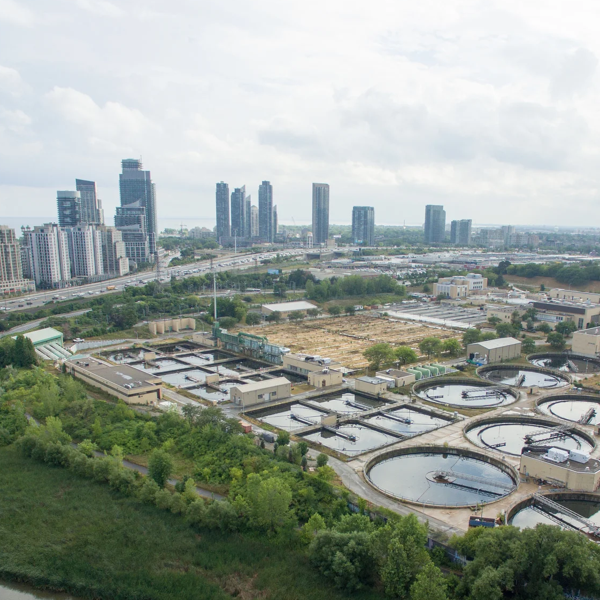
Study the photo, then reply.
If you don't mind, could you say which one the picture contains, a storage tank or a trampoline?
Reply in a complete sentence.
The image shows a storage tank.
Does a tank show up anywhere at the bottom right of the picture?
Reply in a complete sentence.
Yes, looking at the bottom right of the picture, one can make out a tank.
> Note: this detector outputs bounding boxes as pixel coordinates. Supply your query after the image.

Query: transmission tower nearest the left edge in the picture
[147,251,167,298]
